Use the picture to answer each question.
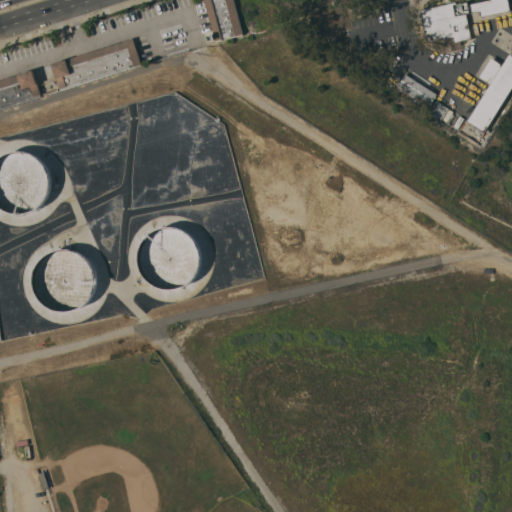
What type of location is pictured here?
industrial area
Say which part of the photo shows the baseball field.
bottom left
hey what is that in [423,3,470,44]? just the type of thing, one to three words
building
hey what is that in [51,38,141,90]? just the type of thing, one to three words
building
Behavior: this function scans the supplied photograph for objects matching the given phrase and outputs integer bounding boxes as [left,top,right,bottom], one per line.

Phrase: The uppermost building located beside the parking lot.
[204,0,242,40]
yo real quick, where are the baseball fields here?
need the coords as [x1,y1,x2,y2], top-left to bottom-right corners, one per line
[21,349,246,512]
